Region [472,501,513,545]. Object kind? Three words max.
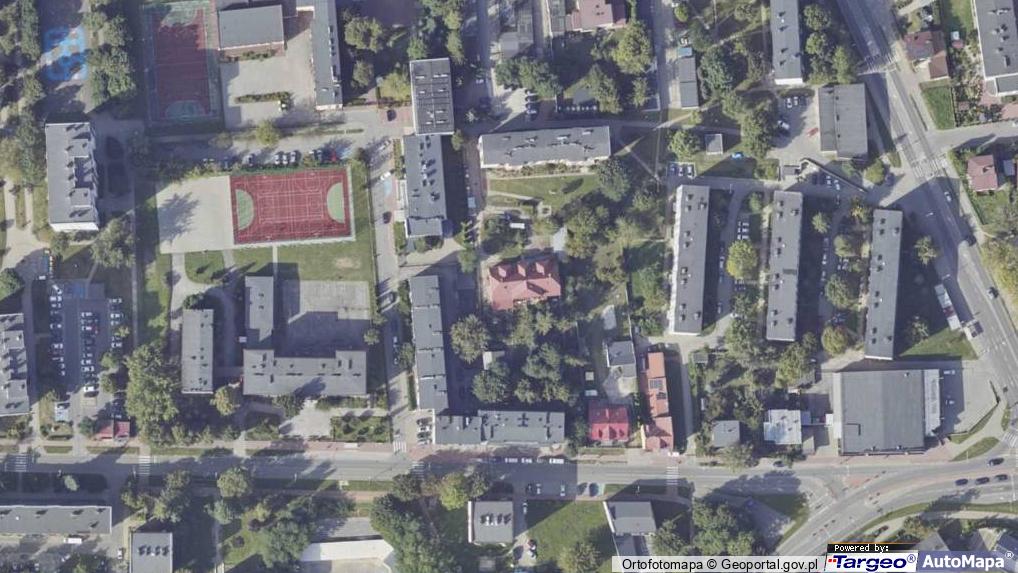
building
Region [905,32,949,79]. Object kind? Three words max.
house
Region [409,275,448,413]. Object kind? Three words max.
building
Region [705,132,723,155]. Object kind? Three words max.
shed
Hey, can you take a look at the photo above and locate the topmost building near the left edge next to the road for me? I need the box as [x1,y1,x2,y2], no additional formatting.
[45,122,107,236]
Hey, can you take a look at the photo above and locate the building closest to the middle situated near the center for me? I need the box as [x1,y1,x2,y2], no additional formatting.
[489,259,561,310]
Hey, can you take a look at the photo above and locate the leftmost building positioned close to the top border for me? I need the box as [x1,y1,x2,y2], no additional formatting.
[218,4,285,52]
